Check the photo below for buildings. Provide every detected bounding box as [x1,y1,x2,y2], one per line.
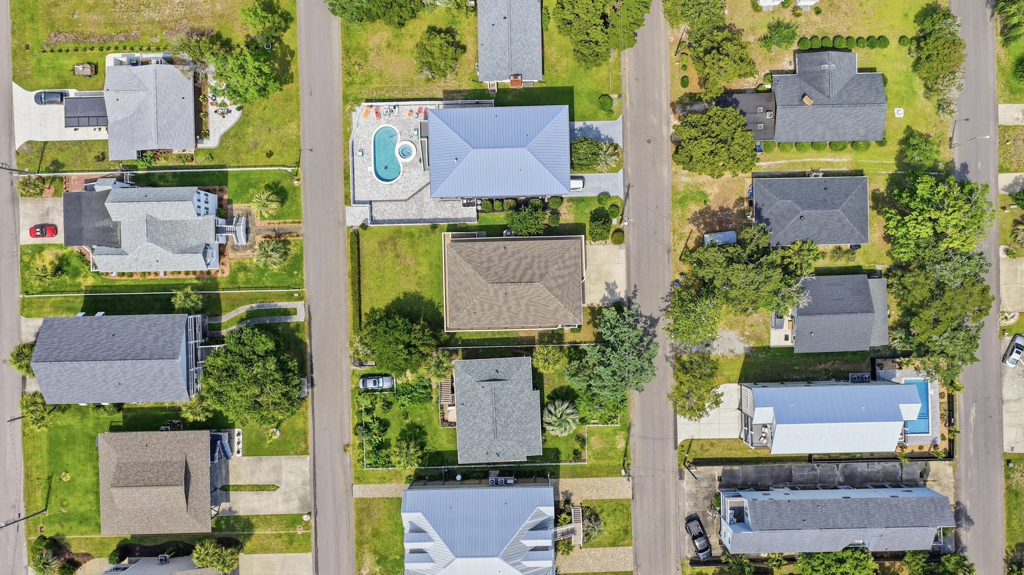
[439,357,541,463]
[734,383,922,455]
[32,310,231,407]
[93,430,239,535]
[790,0,815,11]
[104,64,200,160]
[769,51,886,143]
[401,481,553,575]
[478,0,542,92]
[751,175,869,246]
[720,487,956,557]
[754,0,780,11]
[63,179,246,272]
[442,232,584,333]
[790,275,888,353]
[417,104,571,201]
[90,555,218,575]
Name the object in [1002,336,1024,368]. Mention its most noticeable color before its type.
white car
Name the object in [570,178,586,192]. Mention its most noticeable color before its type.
white car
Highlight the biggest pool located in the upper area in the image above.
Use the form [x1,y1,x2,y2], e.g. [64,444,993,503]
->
[371,124,404,184]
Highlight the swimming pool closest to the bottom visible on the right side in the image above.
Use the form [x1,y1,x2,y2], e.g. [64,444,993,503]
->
[902,378,931,436]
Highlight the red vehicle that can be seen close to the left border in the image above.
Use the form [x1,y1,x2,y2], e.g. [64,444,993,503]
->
[30,224,58,238]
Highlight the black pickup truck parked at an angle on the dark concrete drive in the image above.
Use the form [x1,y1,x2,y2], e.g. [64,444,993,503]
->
[685,515,711,558]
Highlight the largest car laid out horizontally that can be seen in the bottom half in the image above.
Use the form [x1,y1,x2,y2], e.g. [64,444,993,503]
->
[359,376,391,391]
